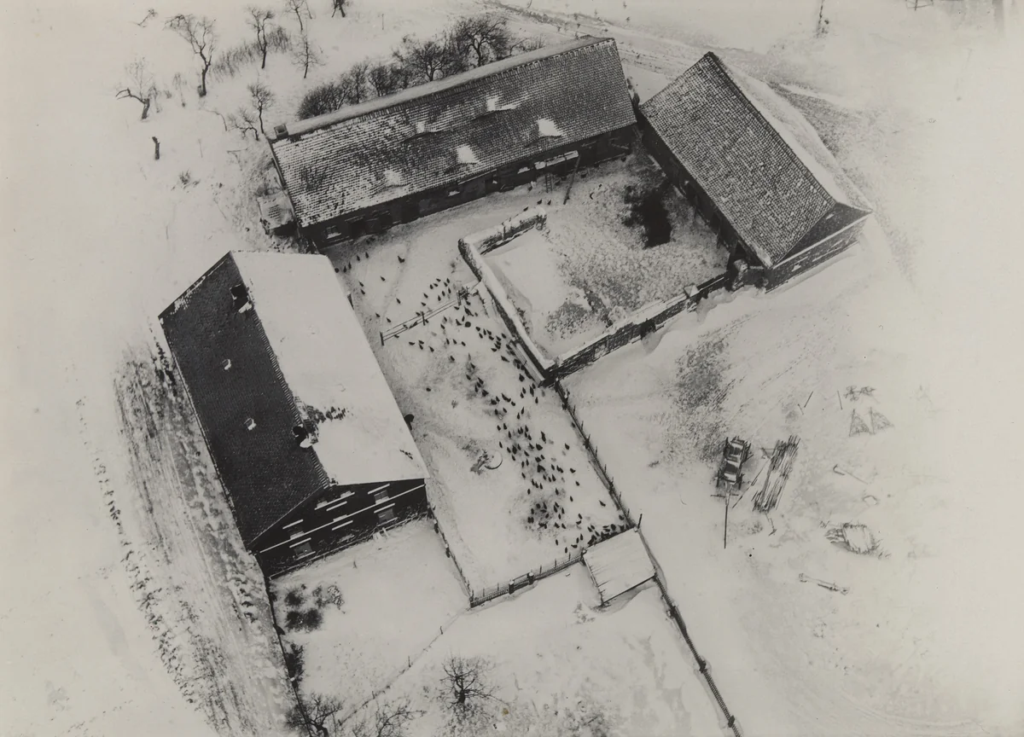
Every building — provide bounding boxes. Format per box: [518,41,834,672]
[638,49,876,291]
[258,33,637,250]
[582,528,657,607]
[158,249,431,575]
